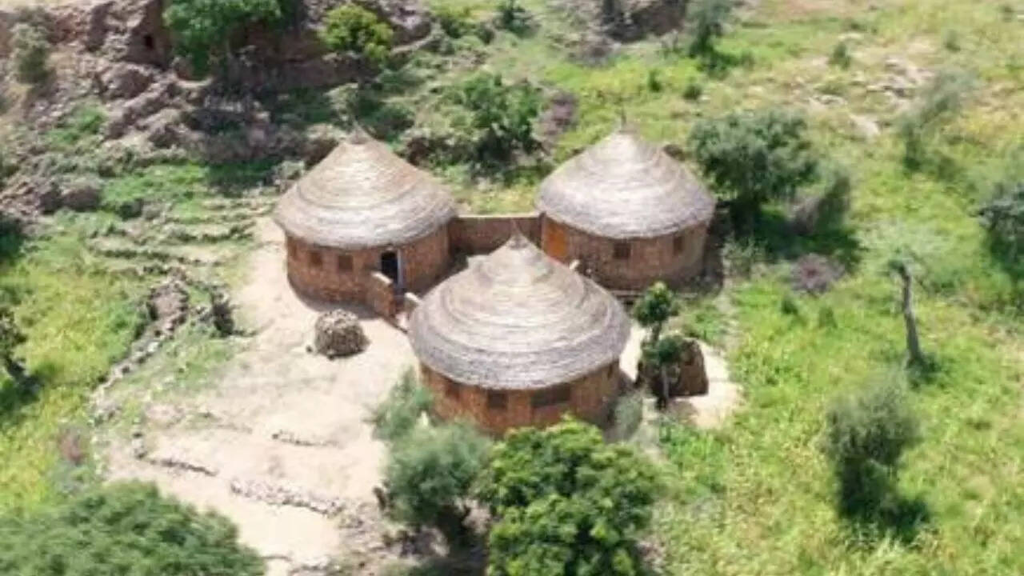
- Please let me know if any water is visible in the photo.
No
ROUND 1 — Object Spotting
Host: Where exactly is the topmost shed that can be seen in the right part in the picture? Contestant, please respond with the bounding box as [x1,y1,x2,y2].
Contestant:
[539,106,714,297]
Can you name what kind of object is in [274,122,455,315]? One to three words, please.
shed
